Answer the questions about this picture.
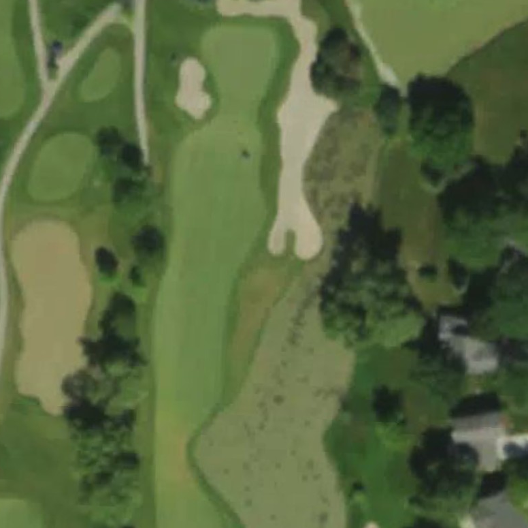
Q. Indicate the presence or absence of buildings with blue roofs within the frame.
No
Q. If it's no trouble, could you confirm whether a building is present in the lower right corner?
Yes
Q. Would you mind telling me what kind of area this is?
golf course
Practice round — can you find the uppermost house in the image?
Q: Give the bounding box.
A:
[441,311,501,374]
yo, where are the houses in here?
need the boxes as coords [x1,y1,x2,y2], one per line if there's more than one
[451,412,506,471]
[441,311,501,374]
[462,488,528,528]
